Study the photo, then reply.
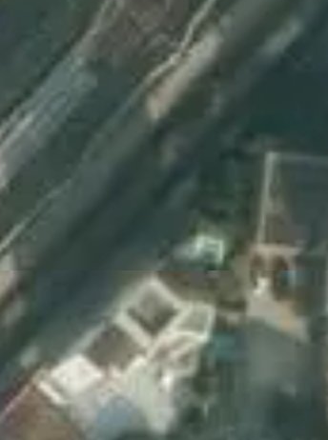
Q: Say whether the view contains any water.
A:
No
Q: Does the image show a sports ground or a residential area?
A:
residential area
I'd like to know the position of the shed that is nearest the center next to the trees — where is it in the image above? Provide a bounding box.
[176,230,229,268]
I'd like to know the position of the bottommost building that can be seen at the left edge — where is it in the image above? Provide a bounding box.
[0,384,81,440]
